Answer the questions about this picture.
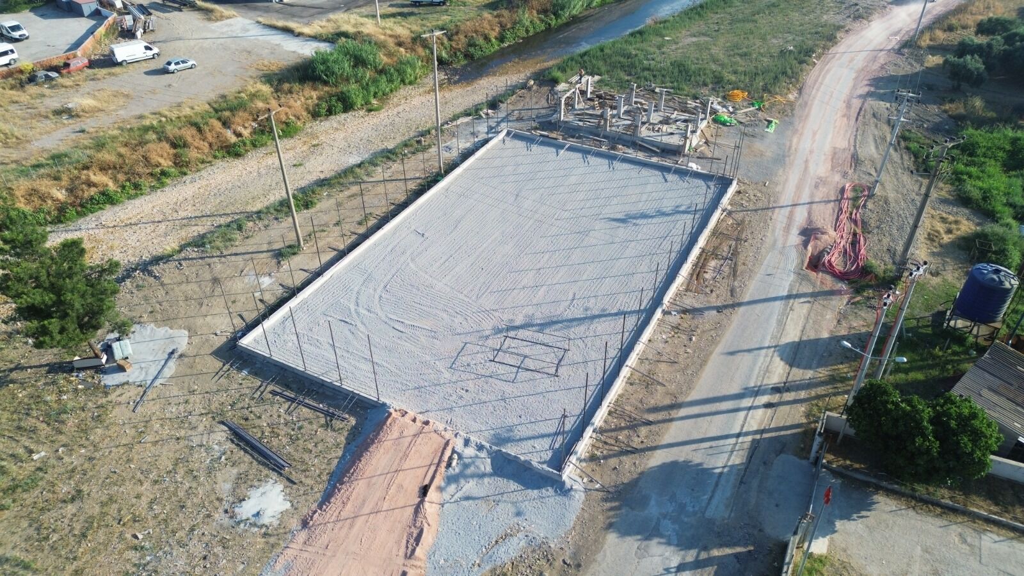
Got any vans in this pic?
Yes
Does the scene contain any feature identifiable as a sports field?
Yes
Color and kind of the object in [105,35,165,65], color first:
white van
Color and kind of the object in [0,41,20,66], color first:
white vehicle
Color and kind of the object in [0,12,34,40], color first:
white vehicle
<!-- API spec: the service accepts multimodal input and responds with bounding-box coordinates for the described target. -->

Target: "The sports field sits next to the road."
[244,133,733,470]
